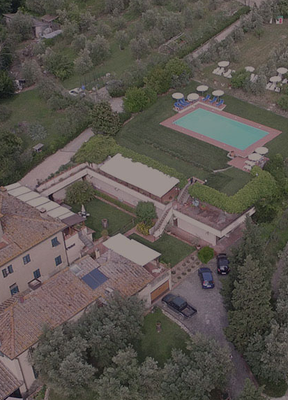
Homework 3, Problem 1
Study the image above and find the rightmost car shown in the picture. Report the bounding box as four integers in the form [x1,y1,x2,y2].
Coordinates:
[215,251,230,273]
